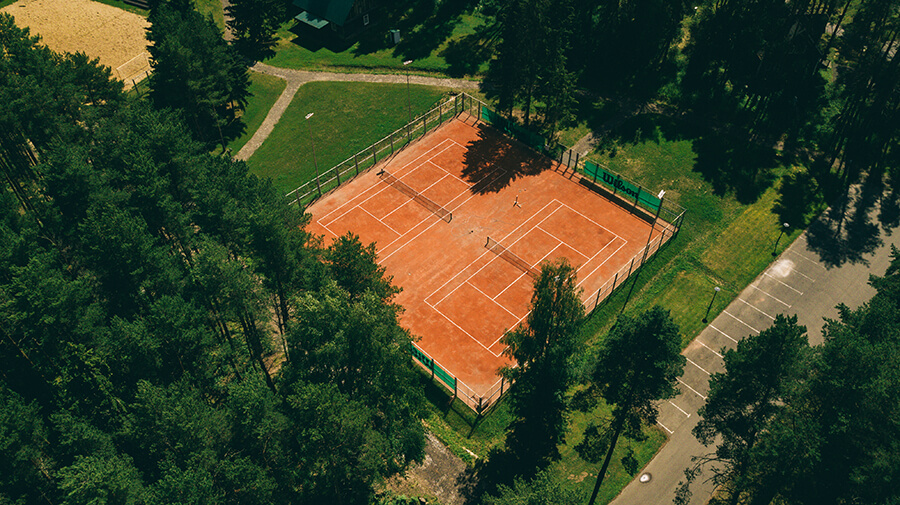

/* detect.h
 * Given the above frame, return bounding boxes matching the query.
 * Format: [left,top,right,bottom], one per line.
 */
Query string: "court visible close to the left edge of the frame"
[0,0,152,103]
